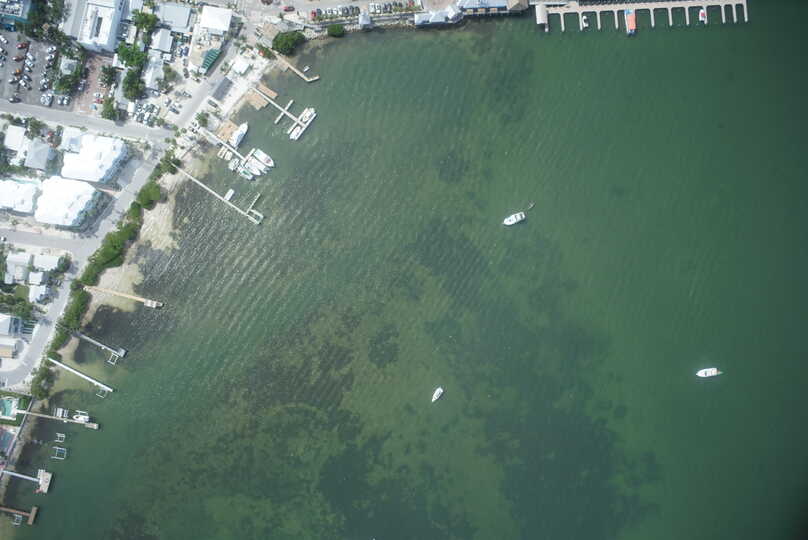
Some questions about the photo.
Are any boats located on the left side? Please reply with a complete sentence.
Yes, on the left side there is a boat.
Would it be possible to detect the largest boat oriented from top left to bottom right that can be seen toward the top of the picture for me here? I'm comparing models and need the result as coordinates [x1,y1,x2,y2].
[254,148,274,165]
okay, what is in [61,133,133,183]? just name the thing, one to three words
building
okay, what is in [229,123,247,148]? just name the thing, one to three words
boat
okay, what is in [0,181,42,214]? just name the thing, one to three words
building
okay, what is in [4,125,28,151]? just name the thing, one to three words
house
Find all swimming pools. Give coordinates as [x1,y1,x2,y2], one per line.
[0,428,16,464]
[0,395,15,419]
